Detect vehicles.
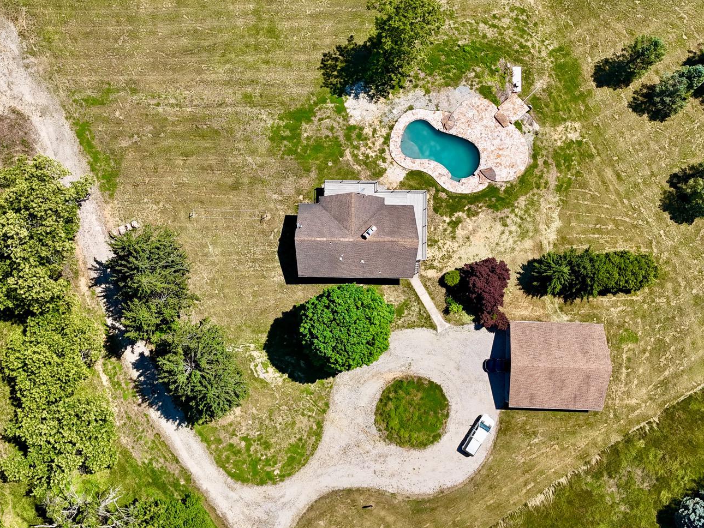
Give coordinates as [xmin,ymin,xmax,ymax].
[461,413,492,458]
[482,359,511,374]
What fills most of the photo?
grass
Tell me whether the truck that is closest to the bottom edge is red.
No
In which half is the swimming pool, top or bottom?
top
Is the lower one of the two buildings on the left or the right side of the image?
right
